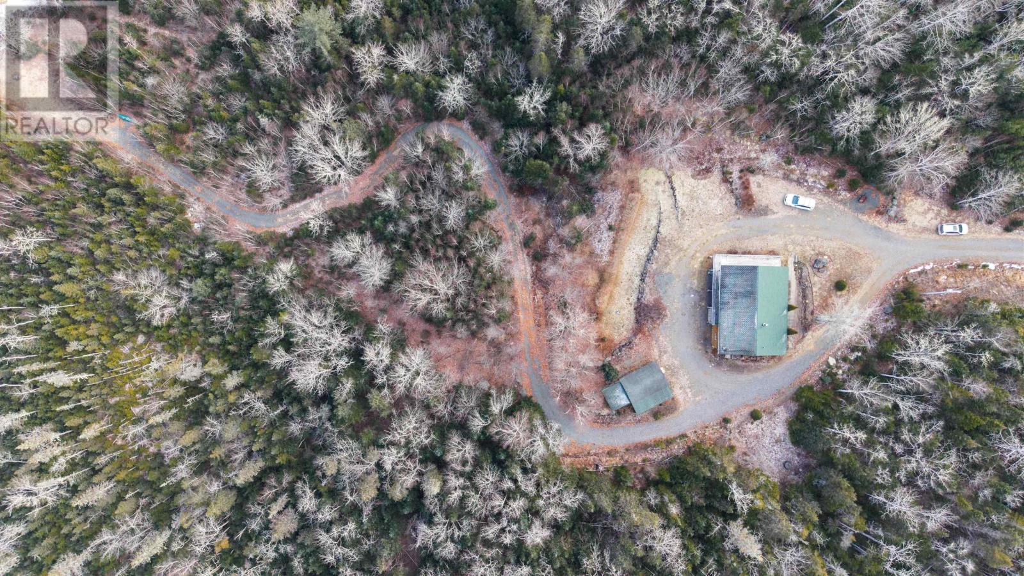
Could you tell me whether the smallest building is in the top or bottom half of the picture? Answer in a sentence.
The bottom half of the photo is where the smallest building is.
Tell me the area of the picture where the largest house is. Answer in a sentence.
The largest house is located in the right region of the scene.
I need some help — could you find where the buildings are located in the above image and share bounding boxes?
[602,361,673,414]
[702,253,788,356]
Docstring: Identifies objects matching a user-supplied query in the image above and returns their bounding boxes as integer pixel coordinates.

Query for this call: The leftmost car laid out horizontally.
[784,194,817,210]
